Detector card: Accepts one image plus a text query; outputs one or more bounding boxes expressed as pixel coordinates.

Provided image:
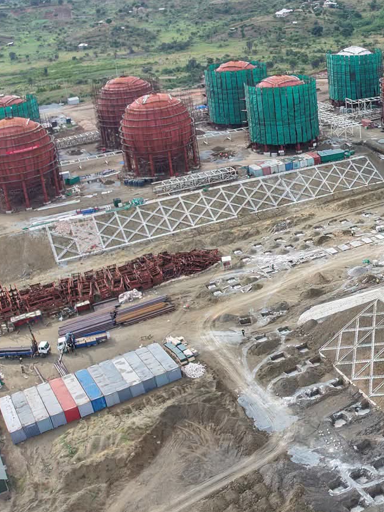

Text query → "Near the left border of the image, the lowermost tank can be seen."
[0,114,63,209]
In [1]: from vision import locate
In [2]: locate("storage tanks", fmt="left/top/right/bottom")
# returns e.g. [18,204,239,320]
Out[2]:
[0,92,39,127]
[245,72,319,152]
[0,114,63,209]
[92,75,156,147]
[204,60,265,128]
[326,45,383,107]
[119,89,199,177]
